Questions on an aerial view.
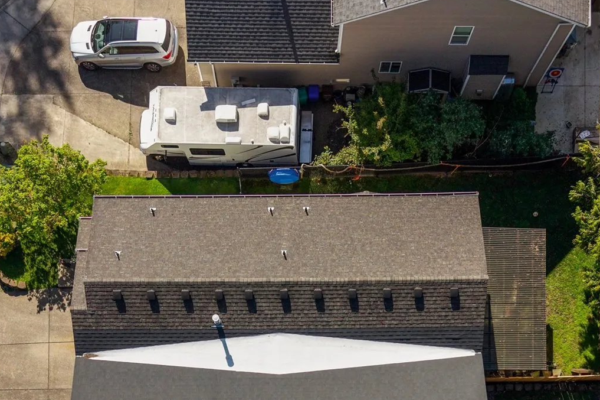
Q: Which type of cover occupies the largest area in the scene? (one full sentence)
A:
Most of the picture is covered by buildings.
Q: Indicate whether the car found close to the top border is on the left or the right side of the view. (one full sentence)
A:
You can find the car found close to the top border on the left side of the picture.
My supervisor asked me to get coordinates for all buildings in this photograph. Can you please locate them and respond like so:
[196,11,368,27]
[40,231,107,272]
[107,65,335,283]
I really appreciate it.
[70,193,489,400]
[184,0,594,98]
